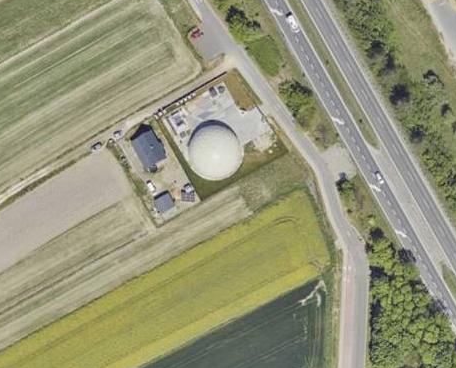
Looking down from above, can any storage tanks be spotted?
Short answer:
Yes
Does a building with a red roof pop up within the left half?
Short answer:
No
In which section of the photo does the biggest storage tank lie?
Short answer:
center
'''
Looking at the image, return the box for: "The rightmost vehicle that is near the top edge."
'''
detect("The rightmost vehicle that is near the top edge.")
[286,13,300,31]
